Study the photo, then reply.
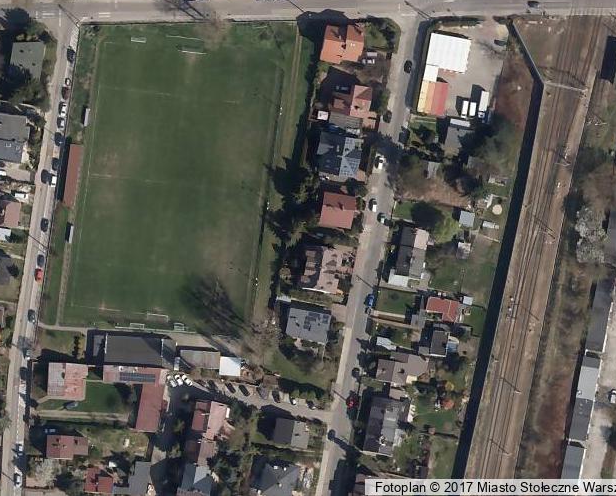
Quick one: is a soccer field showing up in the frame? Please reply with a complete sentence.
Yes, this view includes a soccer field.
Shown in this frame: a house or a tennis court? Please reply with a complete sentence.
Of the two, only a house appears.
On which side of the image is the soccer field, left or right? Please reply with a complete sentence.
It is on the left.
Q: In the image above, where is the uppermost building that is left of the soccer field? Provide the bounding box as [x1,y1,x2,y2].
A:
[10,42,45,79]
